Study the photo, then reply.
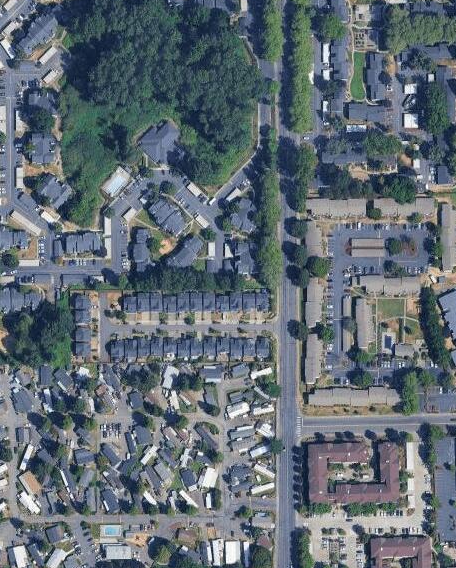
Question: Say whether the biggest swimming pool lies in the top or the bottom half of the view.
top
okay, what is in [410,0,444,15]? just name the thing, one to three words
building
